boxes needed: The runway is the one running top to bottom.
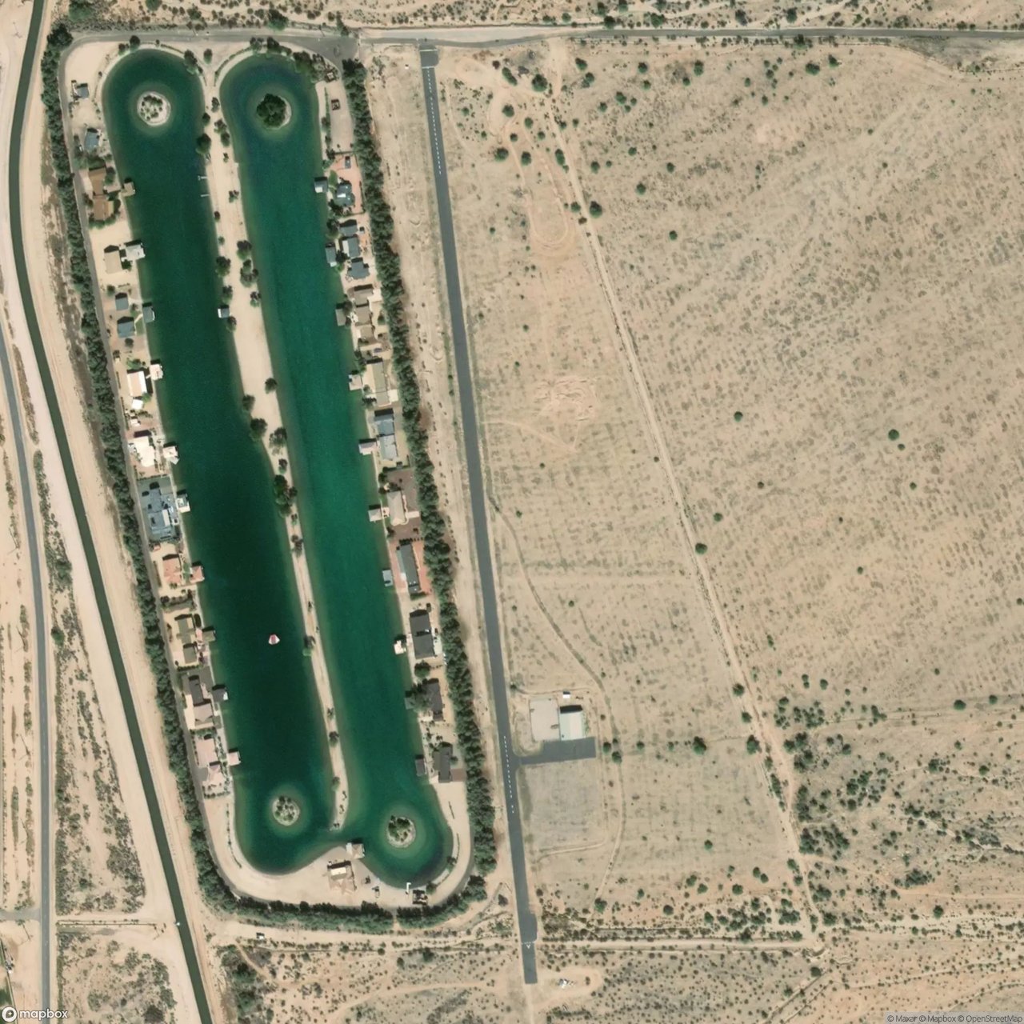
[419,40,596,984]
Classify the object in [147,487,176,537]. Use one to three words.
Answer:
house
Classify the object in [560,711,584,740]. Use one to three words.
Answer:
hangar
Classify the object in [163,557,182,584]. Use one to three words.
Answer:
house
